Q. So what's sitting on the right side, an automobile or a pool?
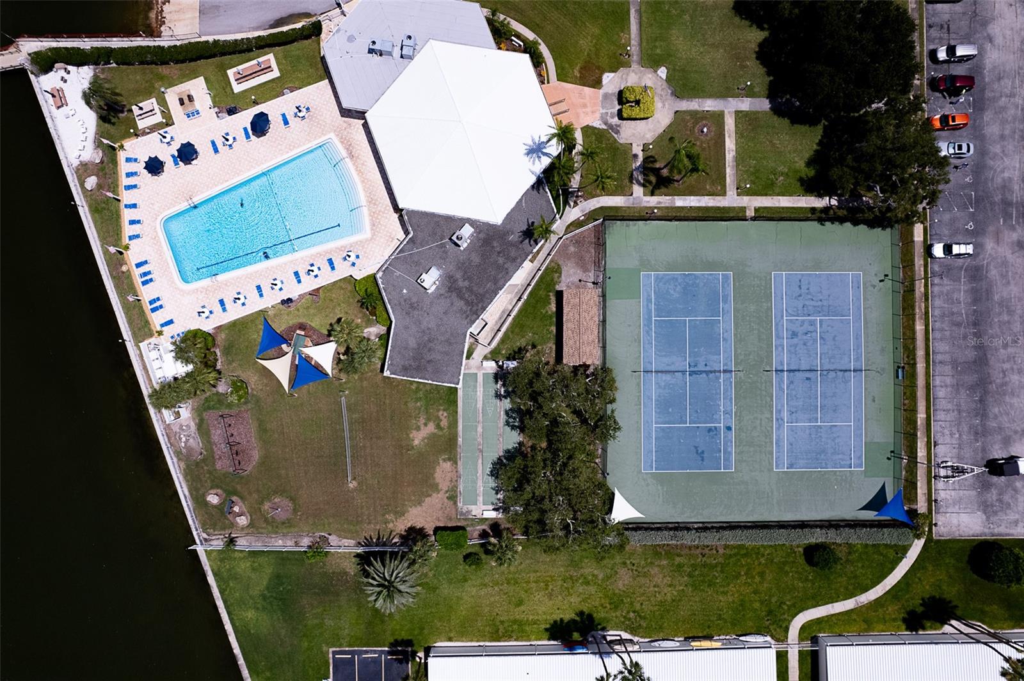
automobile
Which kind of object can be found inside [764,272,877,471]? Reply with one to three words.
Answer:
tennis court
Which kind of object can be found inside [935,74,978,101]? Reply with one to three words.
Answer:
car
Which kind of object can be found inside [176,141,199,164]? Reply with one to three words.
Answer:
umbrella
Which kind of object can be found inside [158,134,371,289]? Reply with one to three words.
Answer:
swimming pool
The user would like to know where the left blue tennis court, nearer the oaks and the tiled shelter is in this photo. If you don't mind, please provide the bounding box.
[632,272,745,473]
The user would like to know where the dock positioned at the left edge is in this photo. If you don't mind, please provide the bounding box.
[0,47,29,71]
